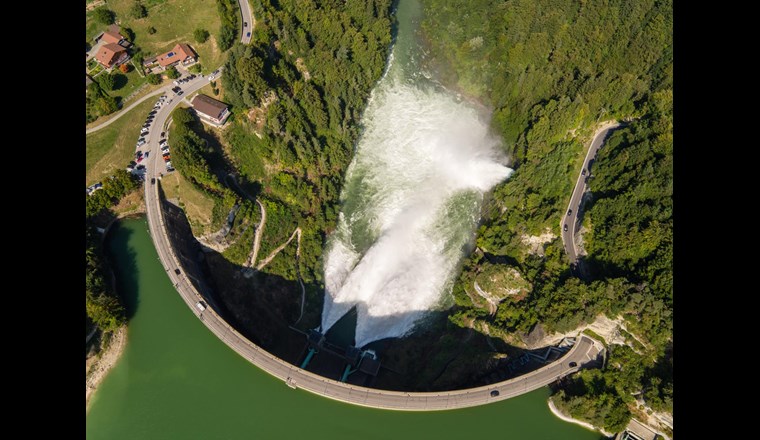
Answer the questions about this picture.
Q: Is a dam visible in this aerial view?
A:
Yes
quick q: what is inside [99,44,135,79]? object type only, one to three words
house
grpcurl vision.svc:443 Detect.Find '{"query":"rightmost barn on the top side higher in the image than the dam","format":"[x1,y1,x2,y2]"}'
[194,94,233,128]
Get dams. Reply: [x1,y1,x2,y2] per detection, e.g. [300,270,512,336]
[145,174,583,411]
